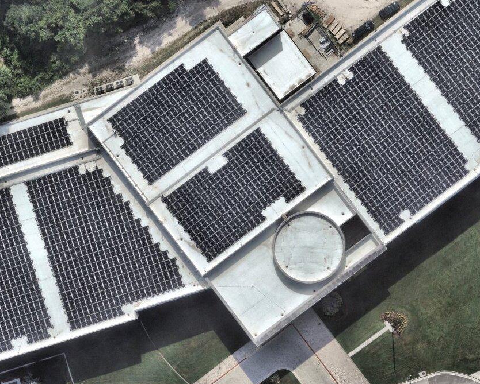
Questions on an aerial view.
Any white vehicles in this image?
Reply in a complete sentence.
No, the picture doesn't show any white vehicle.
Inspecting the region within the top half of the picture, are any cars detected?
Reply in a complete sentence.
Yes, a car appears within the top half of the picture.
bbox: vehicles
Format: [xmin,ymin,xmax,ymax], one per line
[351,21,373,38]
[377,2,399,18]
